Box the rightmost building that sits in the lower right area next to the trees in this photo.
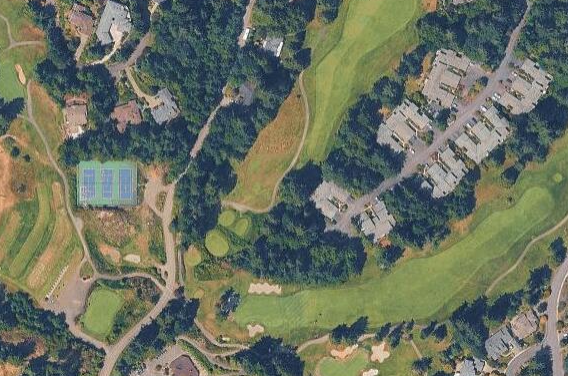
[508,309,541,339]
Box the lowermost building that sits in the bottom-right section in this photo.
[454,356,488,376]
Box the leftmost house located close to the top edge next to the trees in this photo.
[68,1,94,37]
